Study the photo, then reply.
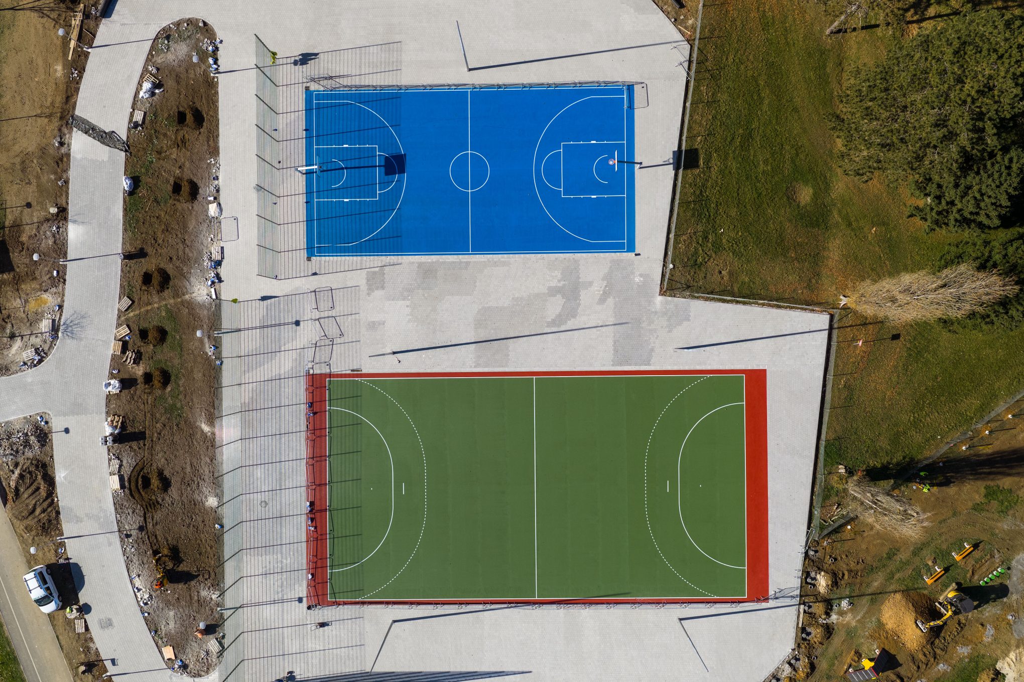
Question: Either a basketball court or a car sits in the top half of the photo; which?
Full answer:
Visible in the top half of the photo is a basketball court.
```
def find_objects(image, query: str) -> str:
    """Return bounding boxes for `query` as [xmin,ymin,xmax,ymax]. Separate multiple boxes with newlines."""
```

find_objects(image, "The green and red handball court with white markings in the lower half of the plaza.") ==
[305,365,770,608]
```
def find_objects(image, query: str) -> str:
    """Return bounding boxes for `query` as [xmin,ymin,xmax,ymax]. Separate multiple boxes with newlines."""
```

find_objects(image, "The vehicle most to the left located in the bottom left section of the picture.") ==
[20,566,61,617]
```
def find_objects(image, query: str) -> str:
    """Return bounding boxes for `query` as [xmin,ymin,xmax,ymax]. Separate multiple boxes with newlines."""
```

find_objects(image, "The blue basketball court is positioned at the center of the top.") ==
[304,84,636,260]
